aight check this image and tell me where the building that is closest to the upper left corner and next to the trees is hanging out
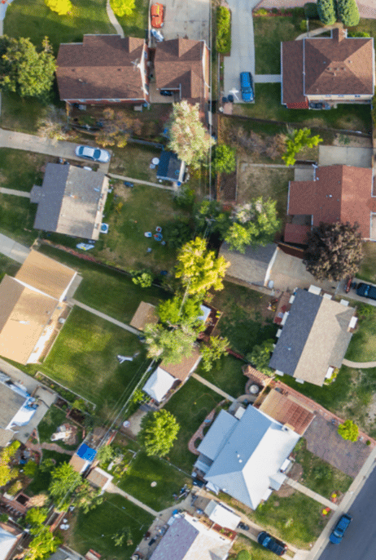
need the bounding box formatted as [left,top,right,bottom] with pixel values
[53,34,152,102]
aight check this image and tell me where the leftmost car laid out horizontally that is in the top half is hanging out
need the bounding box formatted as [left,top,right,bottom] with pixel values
[74,147,112,163]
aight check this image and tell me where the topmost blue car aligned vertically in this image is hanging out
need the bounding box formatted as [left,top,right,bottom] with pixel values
[239,70,255,103]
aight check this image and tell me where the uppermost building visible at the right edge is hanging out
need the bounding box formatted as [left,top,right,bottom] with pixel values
[281,26,375,106]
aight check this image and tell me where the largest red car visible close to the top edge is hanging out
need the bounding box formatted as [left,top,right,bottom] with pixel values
[149,3,164,30]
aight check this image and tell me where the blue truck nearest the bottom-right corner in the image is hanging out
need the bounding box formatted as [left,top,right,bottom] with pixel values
[328,512,354,545]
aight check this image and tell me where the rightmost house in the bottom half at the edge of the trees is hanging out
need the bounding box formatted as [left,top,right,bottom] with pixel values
[268,288,360,388]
